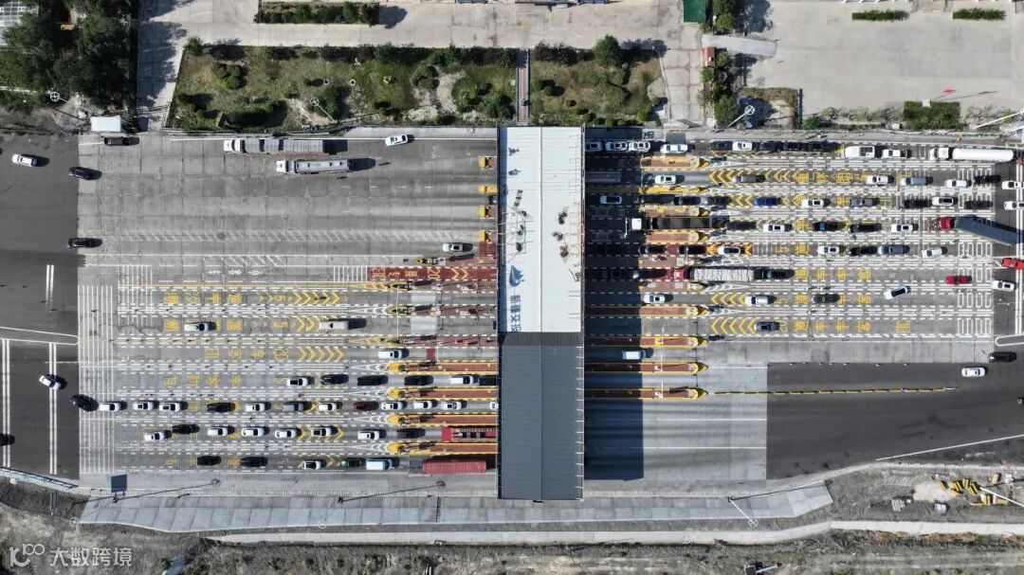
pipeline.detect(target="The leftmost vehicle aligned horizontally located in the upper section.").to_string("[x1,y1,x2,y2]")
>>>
[14,154,37,166]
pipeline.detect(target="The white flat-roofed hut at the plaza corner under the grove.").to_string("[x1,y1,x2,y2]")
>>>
[91,116,130,135]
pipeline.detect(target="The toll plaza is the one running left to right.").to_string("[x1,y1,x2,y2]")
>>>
[79,125,994,501]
